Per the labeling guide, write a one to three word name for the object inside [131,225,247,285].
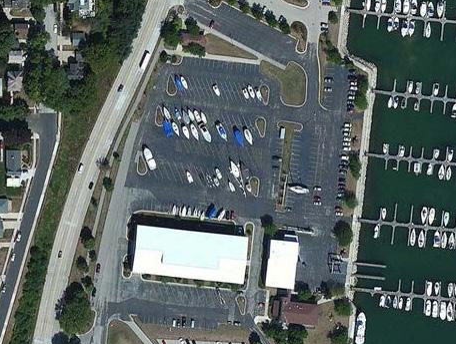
building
